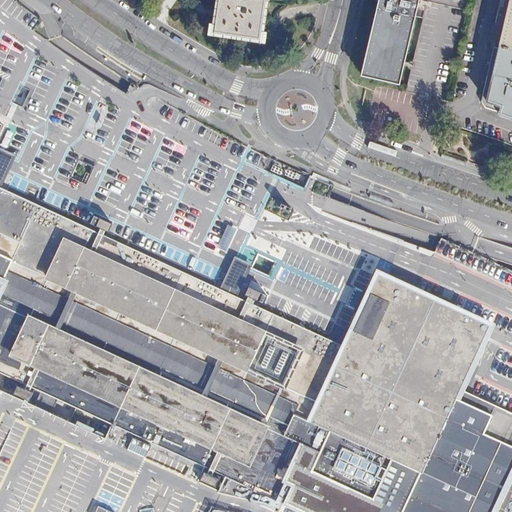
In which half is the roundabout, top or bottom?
top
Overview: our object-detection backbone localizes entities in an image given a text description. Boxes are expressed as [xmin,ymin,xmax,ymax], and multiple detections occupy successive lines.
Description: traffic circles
[258,70,336,150]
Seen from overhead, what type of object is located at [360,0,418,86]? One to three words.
building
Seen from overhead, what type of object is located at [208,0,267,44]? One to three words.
building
